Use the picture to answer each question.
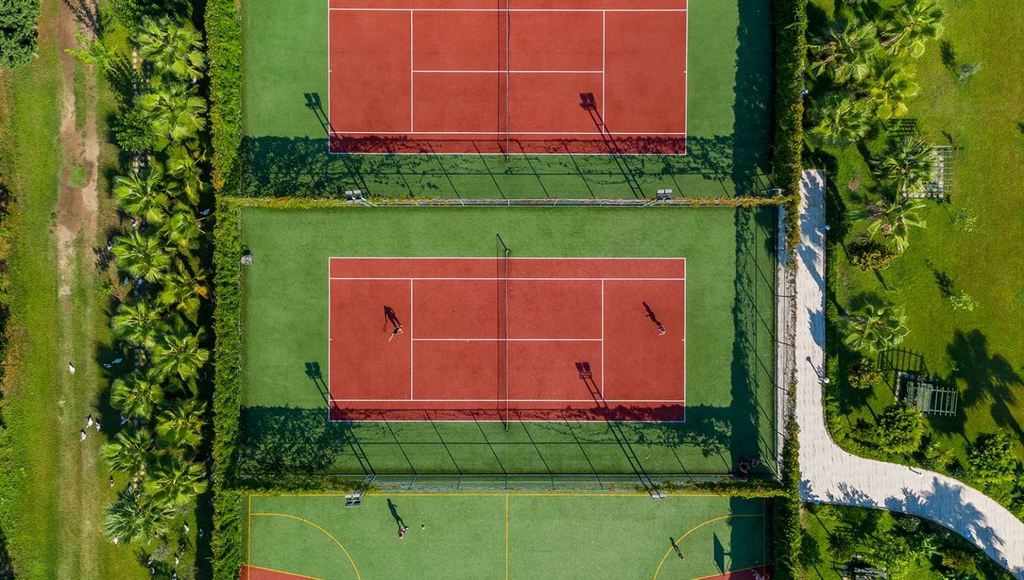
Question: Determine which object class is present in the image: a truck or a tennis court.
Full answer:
This aerial view contains a tennis court.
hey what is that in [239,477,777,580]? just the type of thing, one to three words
basketball court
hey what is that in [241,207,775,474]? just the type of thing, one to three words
tennis court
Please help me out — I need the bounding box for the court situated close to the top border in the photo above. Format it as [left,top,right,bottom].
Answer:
[241,0,775,204]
